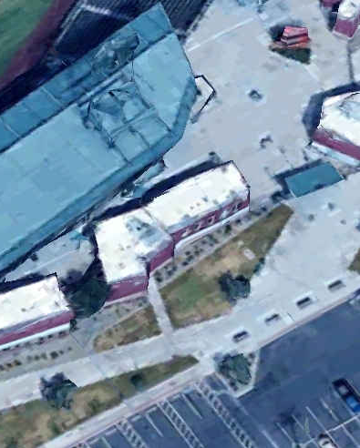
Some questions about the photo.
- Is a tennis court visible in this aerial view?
No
